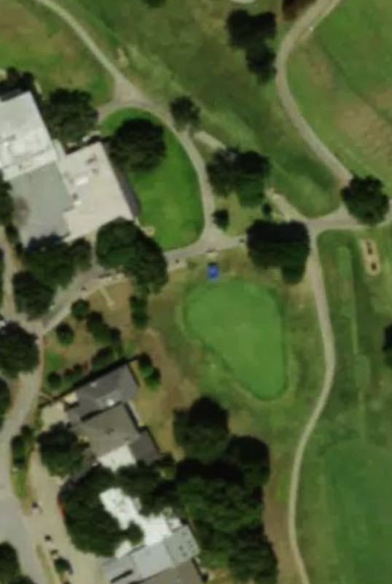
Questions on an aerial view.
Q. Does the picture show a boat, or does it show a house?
house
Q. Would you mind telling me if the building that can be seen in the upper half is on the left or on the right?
left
